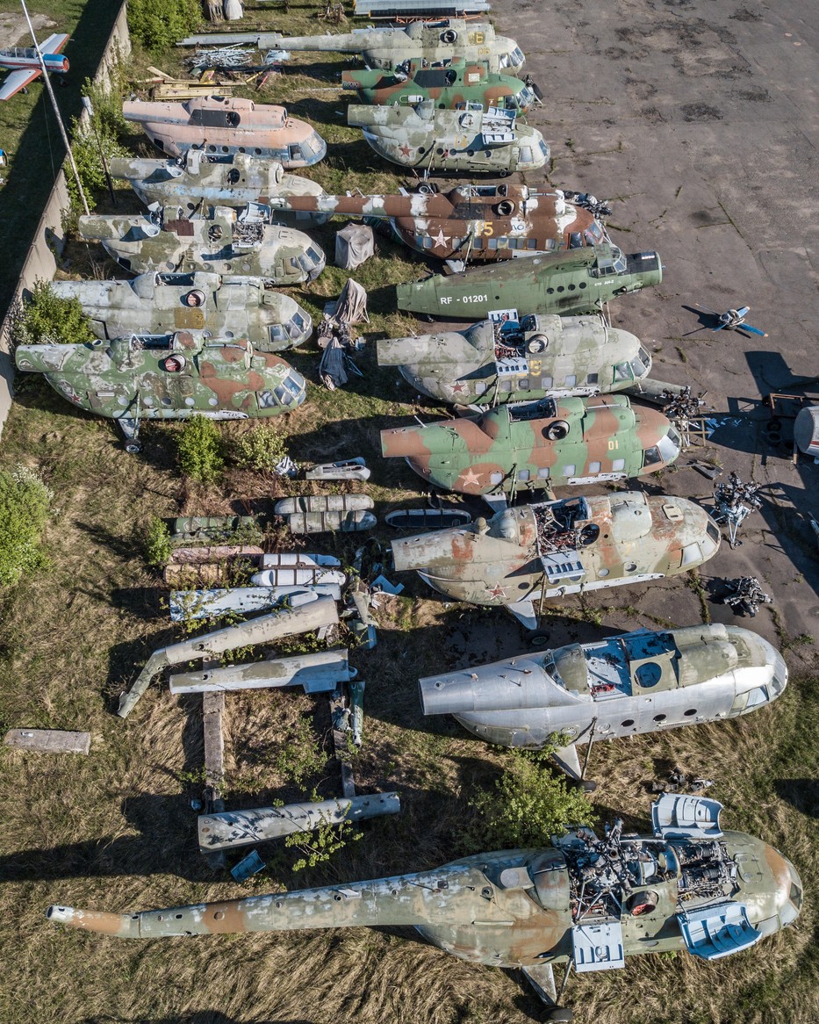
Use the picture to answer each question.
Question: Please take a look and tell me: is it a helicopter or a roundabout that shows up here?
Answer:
helicopter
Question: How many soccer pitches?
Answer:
0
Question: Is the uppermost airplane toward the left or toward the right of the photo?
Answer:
left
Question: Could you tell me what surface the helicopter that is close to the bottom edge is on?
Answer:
grass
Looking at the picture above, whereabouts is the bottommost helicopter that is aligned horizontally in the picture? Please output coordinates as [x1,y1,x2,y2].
[35,789,810,1024]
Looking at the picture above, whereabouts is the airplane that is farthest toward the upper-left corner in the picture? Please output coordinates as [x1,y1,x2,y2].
[0,35,73,105]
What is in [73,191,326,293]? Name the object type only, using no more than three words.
helicopter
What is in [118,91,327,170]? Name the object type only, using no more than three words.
helicopter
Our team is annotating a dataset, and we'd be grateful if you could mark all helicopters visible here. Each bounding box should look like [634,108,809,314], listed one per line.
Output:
[275,185,606,269]
[417,621,795,795]
[345,95,550,192]
[118,91,327,170]
[342,56,533,115]
[377,299,654,410]
[380,393,685,512]
[7,327,307,453]
[47,266,313,356]
[258,21,525,76]
[35,789,810,1024]
[389,488,725,639]
[106,147,326,228]
[73,191,326,293]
